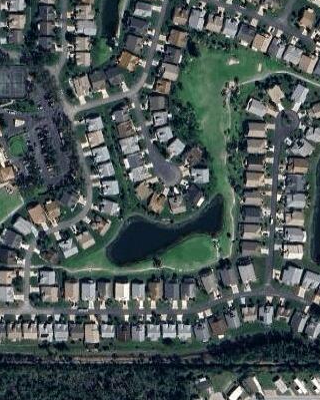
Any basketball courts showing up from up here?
No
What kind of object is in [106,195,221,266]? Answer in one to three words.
pond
